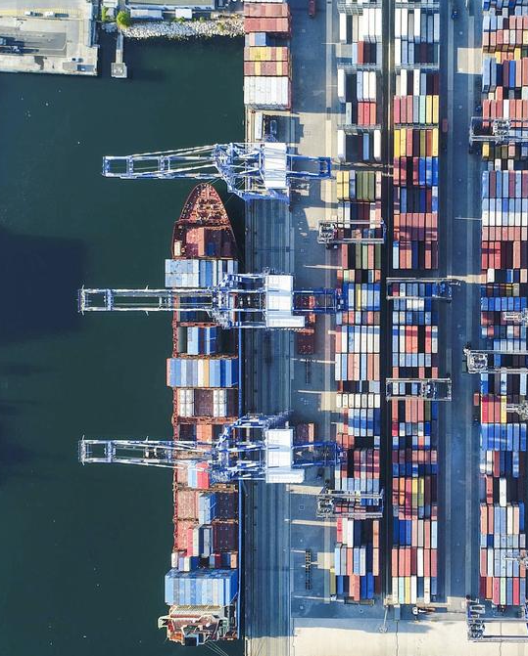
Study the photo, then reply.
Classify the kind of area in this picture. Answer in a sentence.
This image shows a port.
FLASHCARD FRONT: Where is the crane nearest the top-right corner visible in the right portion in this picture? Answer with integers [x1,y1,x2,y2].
[468,116,528,154]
